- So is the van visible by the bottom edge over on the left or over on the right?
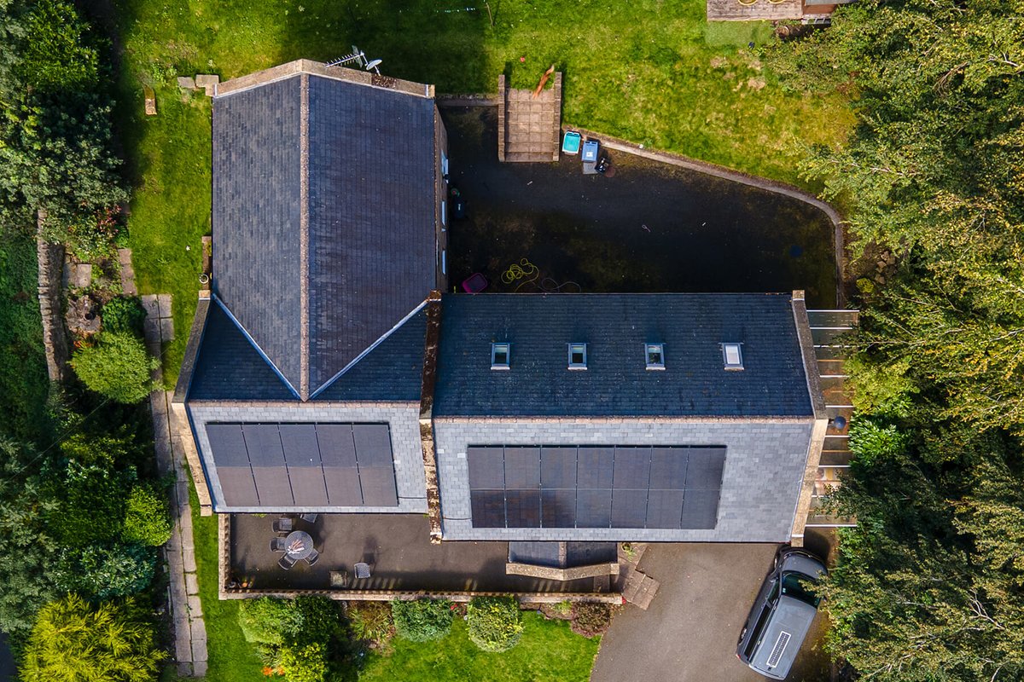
right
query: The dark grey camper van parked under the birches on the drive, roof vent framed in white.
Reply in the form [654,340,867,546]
[732,543,828,682]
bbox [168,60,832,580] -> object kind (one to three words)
house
